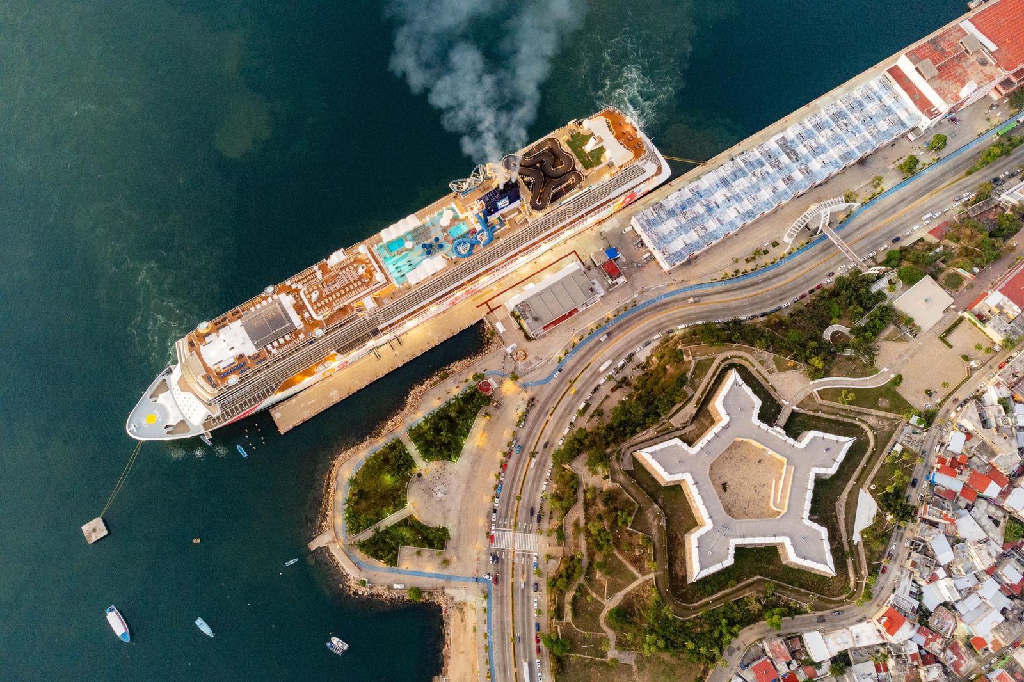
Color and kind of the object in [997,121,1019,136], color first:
green vehicle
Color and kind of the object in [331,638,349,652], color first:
white boat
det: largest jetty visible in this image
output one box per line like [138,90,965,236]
[269,291,484,435]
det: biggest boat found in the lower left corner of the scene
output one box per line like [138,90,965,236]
[105,605,128,642]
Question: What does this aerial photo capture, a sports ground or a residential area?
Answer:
residential area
